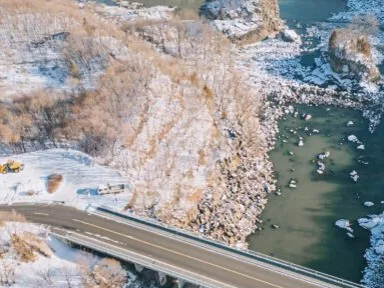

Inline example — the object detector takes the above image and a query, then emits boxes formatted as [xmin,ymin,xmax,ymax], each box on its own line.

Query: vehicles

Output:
[0,157,28,174]
[98,180,124,194]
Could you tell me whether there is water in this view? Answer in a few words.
Yes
